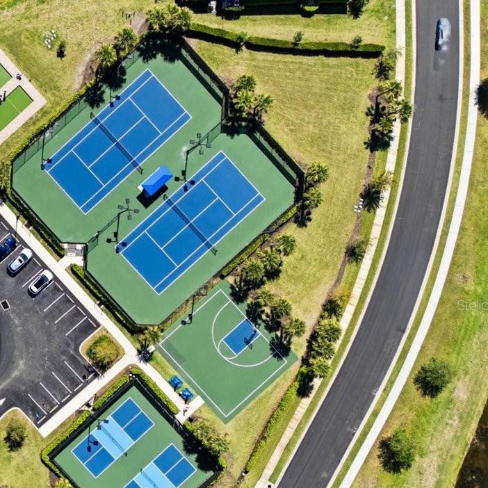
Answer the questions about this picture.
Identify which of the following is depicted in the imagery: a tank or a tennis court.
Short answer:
tennis court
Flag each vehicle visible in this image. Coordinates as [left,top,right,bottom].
[0,237,16,260]
[7,250,33,276]
[27,270,54,295]
[436,20,452,48]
